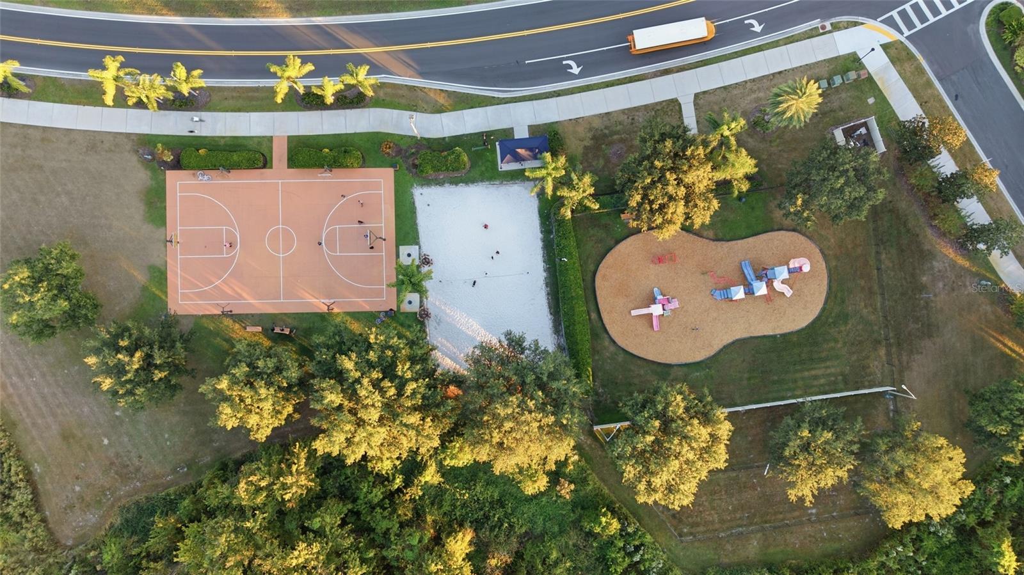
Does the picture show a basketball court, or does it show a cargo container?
basketball court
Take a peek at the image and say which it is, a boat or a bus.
bus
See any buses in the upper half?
Yes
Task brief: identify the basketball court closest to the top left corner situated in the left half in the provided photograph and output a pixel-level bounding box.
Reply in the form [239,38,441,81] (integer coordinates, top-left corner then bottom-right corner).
[166,167,396,314]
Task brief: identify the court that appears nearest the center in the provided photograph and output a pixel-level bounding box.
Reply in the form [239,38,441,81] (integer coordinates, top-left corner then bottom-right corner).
[410,180,559,380]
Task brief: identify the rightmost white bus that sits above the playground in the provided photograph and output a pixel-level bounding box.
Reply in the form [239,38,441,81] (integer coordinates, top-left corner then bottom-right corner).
[628,14,717,56]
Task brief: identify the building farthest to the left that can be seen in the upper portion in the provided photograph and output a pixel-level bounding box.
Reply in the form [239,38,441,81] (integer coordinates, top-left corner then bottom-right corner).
[497,135,551,171]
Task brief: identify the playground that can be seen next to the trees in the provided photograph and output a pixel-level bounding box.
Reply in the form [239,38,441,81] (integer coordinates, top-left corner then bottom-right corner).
[594,229,829,365]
